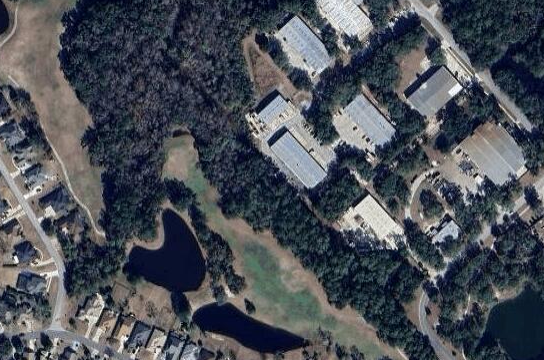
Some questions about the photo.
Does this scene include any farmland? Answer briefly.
No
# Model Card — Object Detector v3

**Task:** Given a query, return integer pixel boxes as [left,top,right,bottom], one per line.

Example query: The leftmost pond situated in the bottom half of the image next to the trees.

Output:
[120,206,208,295]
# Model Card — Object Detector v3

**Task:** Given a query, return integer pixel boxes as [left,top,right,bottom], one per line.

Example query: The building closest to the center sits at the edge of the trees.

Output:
[271,130,326,189]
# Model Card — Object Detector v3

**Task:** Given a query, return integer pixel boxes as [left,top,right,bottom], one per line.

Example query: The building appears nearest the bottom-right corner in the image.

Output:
[430,220,459,247]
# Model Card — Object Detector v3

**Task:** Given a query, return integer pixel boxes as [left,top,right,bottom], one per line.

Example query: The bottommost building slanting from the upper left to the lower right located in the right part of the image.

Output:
[354,194,404,247]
